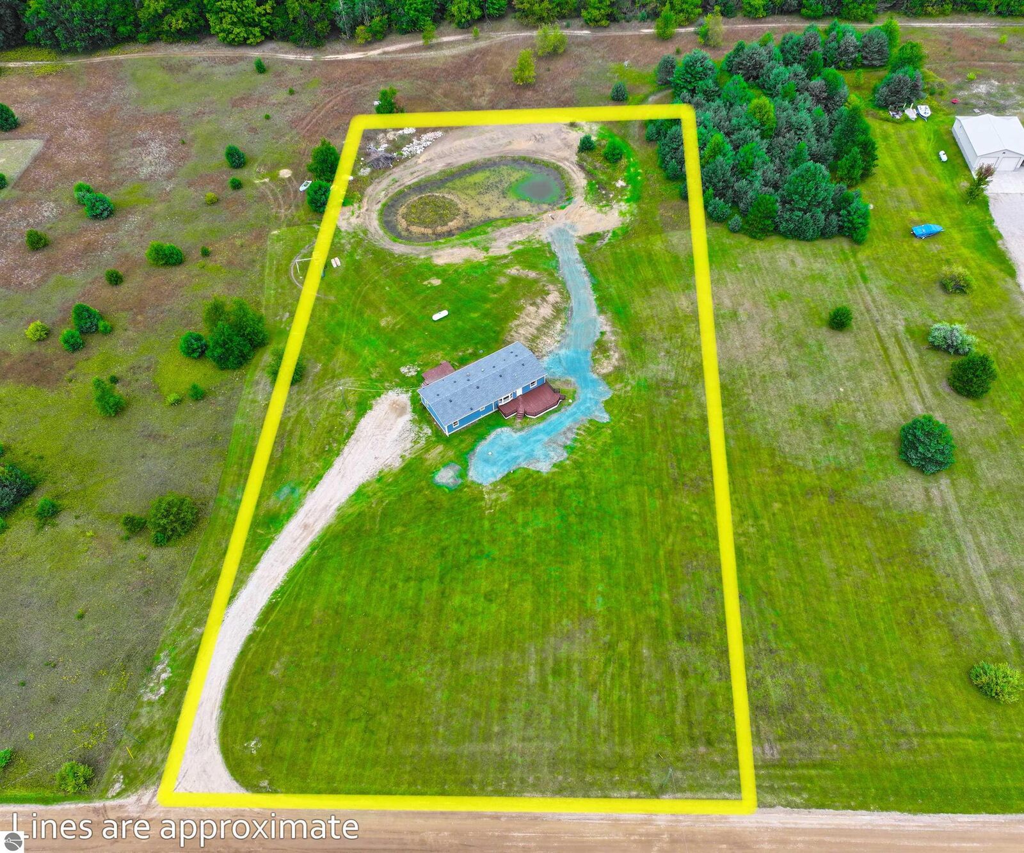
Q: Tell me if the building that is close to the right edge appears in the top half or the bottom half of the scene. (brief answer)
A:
top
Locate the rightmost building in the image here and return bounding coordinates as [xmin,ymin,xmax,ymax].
[951,107,1024,170]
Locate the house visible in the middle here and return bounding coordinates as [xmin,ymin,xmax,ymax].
[418,340,547,436]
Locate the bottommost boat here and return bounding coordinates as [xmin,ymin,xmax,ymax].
[908,223,947,239]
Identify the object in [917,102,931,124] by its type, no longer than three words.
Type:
boat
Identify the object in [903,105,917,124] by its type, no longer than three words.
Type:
boat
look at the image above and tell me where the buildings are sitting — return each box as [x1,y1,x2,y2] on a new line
[951,107,1024,170]
[418,340,547,436]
